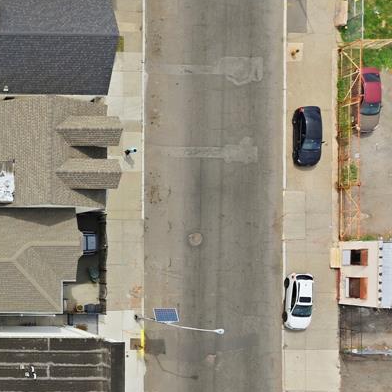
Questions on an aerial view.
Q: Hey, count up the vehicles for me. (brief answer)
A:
3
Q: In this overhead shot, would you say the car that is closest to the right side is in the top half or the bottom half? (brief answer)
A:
top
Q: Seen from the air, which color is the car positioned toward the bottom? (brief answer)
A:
white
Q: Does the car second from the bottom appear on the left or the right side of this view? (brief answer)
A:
right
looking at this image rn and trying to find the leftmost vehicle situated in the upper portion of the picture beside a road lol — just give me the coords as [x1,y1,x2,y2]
[291,106,324,166]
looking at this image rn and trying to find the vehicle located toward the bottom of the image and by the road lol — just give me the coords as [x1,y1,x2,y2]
[282,274,314,330]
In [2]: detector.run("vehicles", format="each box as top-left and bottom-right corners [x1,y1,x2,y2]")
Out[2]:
[291,106,324,166]
[352,70,386,132]
[282,274,314,330]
